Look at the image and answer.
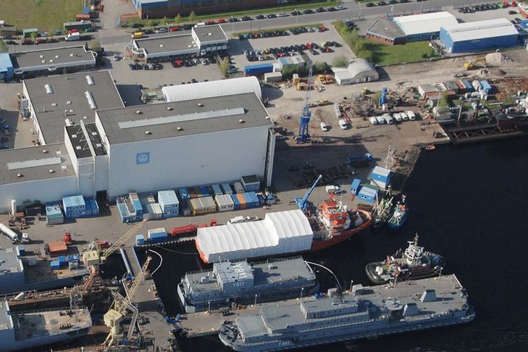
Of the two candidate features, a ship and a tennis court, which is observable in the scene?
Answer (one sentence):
The image shows a ship.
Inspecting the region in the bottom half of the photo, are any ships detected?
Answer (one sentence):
Yes, looking in the bottom half of the photo, one can make out a ship.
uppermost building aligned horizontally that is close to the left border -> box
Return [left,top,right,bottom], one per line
[10,45,96,80]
